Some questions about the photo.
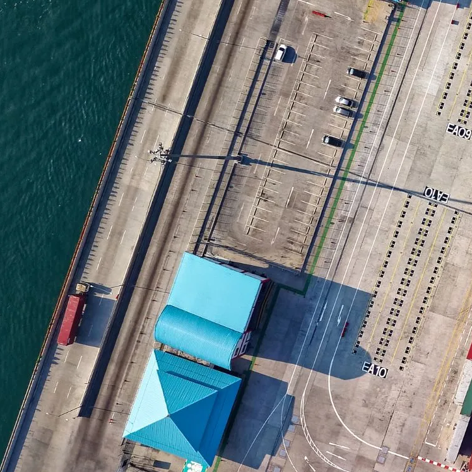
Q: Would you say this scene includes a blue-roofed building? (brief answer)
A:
Yes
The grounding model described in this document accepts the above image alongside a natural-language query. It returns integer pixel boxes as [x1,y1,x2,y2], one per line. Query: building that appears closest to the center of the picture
[150,250,280,374]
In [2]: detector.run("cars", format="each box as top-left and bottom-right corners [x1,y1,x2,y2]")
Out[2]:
[322,136,342,148]
[348,67,367,79]
[336,97,355,109]
[332,106,353,118]
[274,43,289,64]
